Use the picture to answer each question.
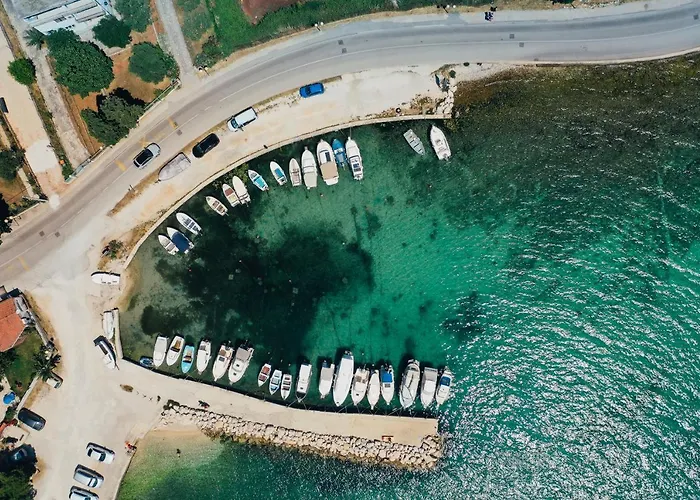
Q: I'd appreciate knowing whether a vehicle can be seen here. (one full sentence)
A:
Yes, this view includes a vehicle.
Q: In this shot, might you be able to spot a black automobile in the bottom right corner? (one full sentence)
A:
No, no black automobile can be made out in the bottom right corner.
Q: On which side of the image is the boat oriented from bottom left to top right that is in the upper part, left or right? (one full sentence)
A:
It is on the left.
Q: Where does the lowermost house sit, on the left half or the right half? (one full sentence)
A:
You can find the lowermost house on the left side of the picture.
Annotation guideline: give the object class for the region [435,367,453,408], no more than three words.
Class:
boat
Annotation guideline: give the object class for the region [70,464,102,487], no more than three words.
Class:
car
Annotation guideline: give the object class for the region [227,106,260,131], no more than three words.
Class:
vehicle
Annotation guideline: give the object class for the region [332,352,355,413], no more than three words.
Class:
boat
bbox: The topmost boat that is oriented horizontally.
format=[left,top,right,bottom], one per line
[91,273,123,285]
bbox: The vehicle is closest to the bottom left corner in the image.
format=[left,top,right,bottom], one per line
[12,444,34,464]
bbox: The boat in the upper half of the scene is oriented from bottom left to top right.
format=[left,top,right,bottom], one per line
[157,151,193,185]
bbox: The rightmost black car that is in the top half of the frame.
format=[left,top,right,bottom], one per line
[192,132,221,158]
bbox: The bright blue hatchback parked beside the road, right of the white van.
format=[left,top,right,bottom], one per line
[299,81,326,99]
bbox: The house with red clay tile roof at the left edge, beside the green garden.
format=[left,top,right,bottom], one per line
[0,298,33,350]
